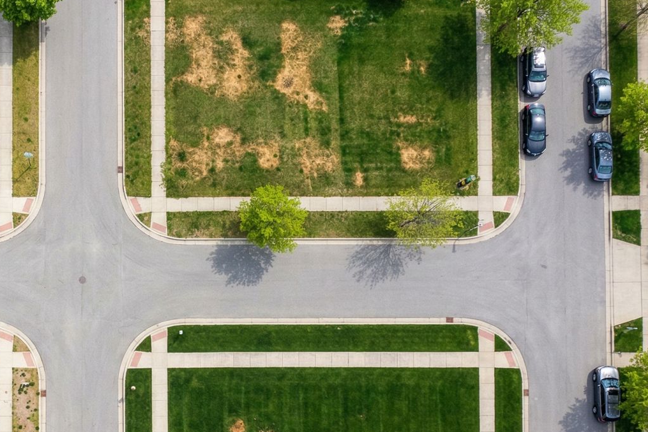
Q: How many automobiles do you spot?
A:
five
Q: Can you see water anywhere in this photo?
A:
No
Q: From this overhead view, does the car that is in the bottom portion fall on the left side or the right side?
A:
right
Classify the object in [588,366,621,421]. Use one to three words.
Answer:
car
